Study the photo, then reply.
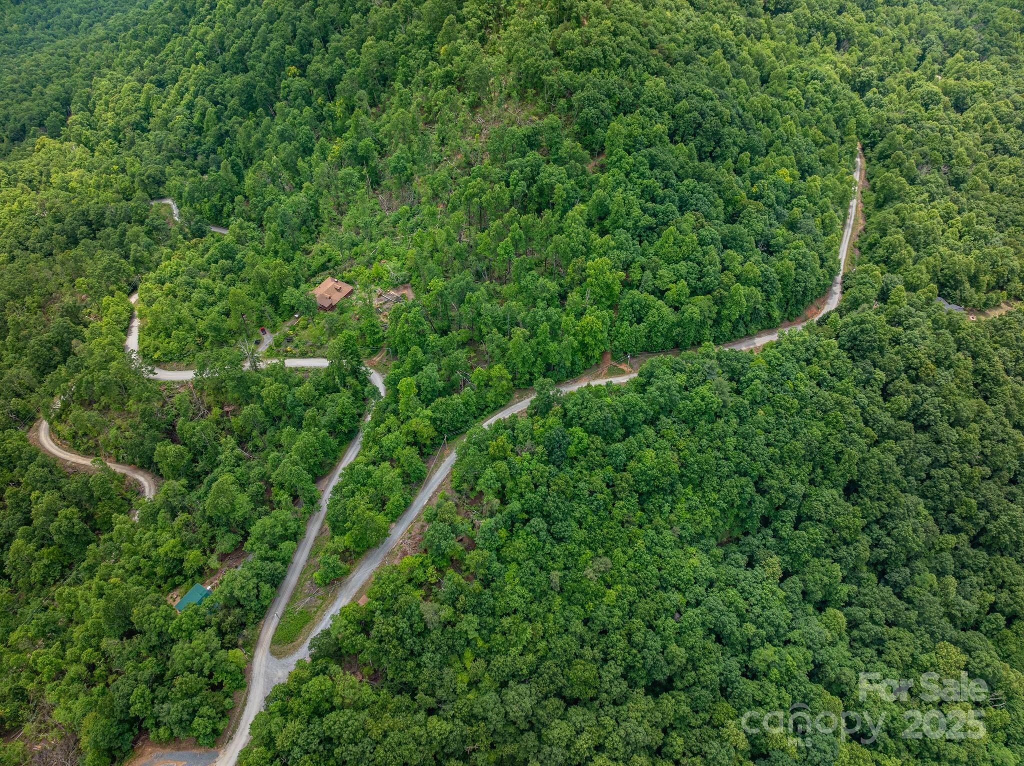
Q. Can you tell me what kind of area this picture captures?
forest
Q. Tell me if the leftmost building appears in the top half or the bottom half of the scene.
bottom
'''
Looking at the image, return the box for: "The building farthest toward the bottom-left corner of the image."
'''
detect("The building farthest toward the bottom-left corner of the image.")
[172,583,219,618]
